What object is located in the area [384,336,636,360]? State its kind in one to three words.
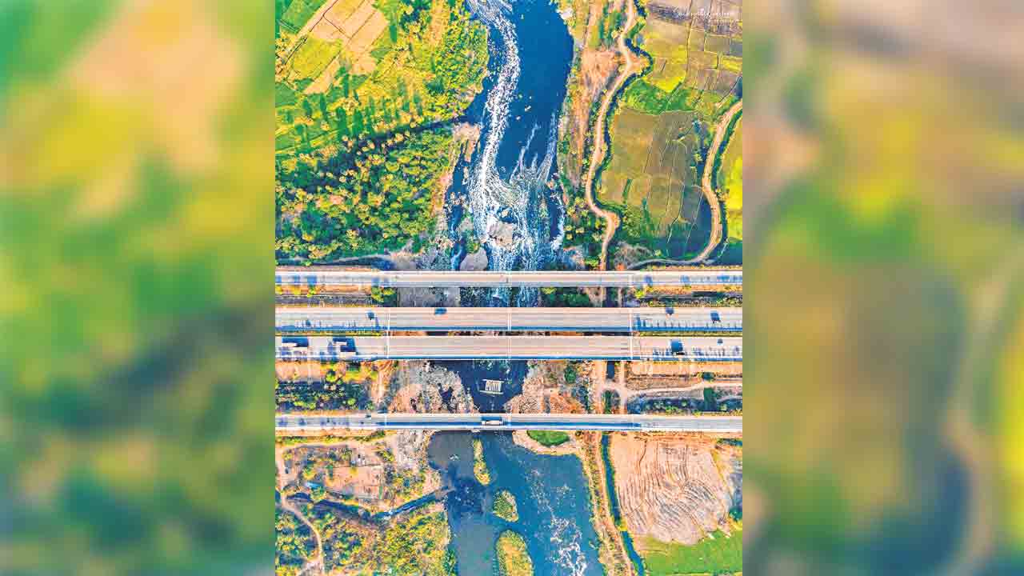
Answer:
bridge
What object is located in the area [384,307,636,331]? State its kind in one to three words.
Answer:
bridge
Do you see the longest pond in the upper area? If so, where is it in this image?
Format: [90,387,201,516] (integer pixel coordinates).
[671,188,711,253]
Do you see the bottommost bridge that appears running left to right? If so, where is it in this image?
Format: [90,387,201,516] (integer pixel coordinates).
[384,413,636,433]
